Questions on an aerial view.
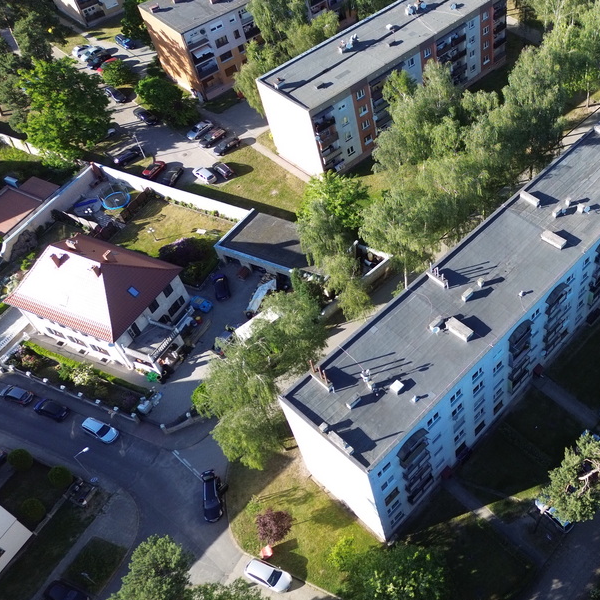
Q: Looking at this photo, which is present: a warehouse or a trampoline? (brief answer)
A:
trampoline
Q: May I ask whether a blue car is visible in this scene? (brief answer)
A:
Yes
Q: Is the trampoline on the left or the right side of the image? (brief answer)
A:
left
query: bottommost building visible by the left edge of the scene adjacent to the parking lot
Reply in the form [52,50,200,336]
[2,231,206,376]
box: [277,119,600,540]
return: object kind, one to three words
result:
building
